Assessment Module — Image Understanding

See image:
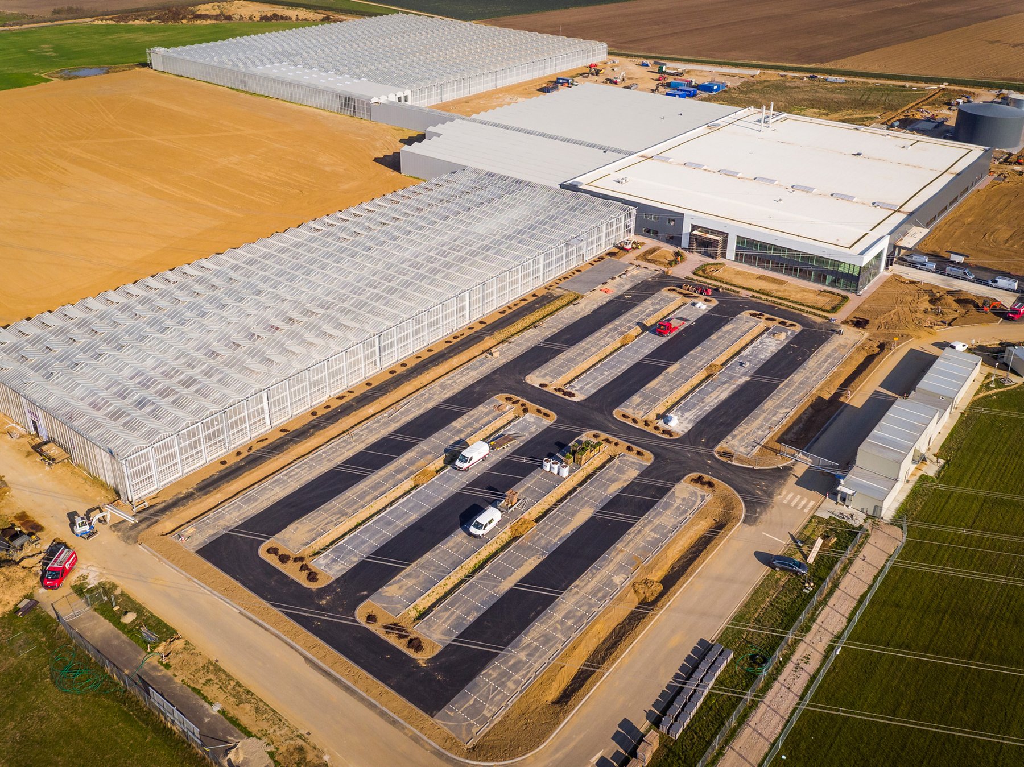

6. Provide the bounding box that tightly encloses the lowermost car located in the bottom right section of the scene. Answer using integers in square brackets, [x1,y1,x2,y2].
[765,553,806,576]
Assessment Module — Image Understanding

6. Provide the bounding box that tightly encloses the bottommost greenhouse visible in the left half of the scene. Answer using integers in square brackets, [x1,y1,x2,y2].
[0,164,638,503]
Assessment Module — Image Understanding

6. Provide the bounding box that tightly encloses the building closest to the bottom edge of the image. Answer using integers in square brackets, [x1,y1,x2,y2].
[831,465,897,517]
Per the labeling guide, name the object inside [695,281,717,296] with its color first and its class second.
red work vehicle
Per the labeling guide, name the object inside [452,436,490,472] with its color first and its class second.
white van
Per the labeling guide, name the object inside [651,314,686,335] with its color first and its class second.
red truck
